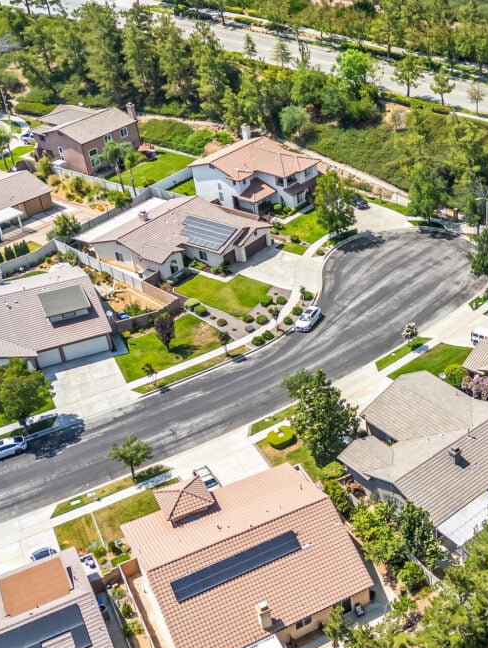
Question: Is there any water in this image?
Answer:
No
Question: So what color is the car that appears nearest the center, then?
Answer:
white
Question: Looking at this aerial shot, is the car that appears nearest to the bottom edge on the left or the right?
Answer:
left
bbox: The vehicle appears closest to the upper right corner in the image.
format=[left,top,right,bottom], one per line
[345,186,374,209]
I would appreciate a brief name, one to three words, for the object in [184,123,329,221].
house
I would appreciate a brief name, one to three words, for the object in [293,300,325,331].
car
